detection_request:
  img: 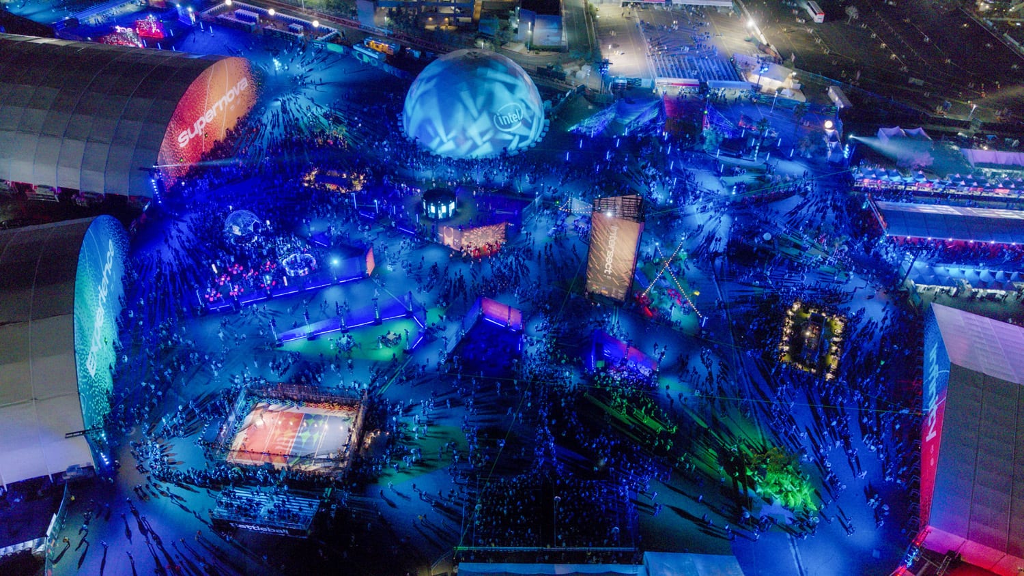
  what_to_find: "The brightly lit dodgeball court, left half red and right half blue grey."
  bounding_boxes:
[208,378,375,483]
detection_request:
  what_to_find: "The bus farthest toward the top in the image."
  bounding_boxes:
[800,0,822,21]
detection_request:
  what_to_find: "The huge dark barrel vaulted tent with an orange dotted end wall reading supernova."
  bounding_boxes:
[0,47,260,211]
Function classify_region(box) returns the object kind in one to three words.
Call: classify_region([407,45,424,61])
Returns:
vehicle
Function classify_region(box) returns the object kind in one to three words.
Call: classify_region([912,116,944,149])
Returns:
tent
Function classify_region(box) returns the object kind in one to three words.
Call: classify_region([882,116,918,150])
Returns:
tent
